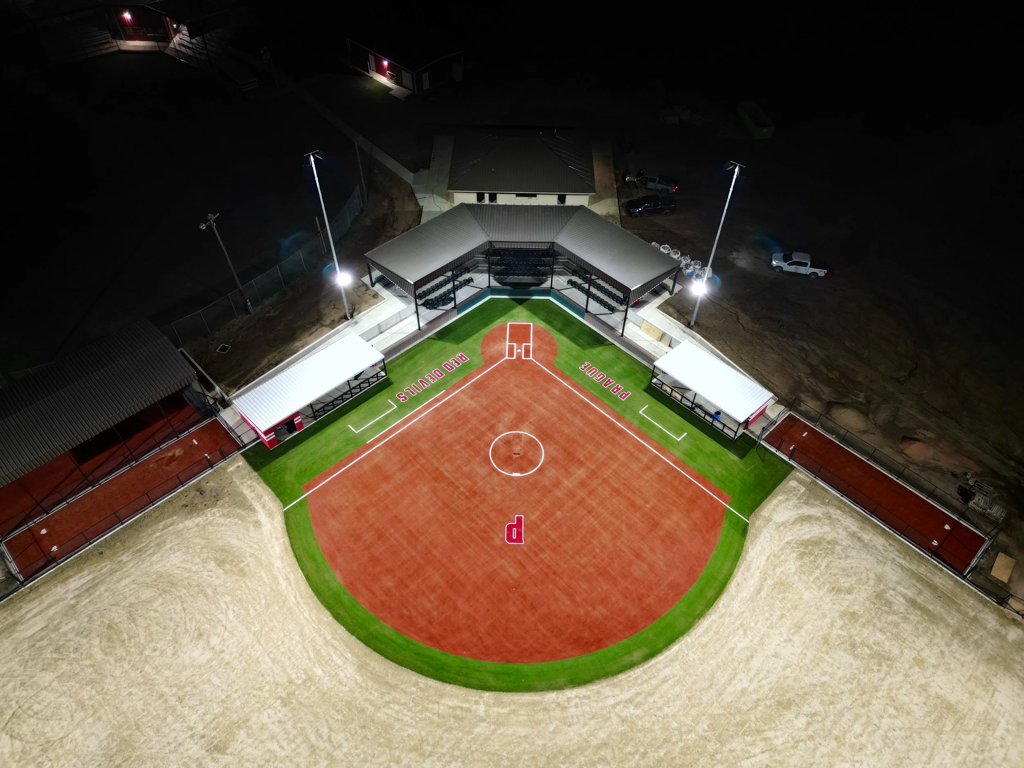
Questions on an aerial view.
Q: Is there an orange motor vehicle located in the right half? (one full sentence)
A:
No, there's no orange motor vehicle to be seen in the right half.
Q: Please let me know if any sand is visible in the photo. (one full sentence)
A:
Yes, sand can be seen from above here.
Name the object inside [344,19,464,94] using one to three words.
shed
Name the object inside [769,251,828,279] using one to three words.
truck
